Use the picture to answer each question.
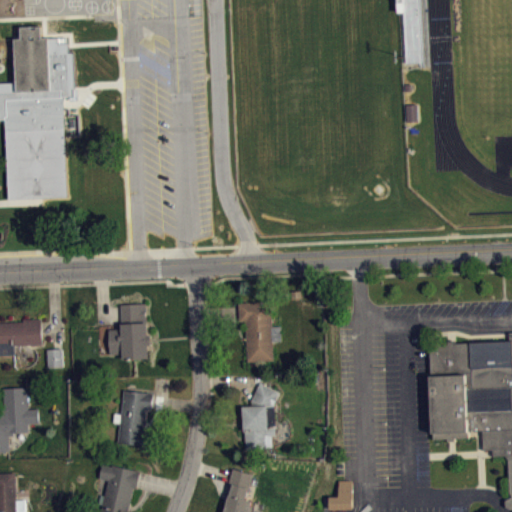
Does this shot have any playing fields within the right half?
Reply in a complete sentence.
Yes, a playing field appears within the right half.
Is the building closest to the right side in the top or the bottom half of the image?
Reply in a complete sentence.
Seen from above, the building closest to the right side lies in the bottom half of the view.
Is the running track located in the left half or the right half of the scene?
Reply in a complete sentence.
The running track sits on the right side.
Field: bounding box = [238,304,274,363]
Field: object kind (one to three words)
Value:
house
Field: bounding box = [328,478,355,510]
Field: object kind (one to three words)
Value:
shed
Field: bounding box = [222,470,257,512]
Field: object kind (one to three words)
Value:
house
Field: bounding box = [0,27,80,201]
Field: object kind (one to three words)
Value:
building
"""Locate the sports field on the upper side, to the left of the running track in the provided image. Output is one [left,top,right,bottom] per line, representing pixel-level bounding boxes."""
[233,0,444,236]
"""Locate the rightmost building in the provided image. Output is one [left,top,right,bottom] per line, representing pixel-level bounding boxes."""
[428,342,512,512]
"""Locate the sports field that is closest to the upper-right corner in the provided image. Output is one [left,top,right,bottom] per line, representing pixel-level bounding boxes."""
[452,0,512,176]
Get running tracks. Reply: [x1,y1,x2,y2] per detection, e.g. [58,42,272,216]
[430,0,512,198]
